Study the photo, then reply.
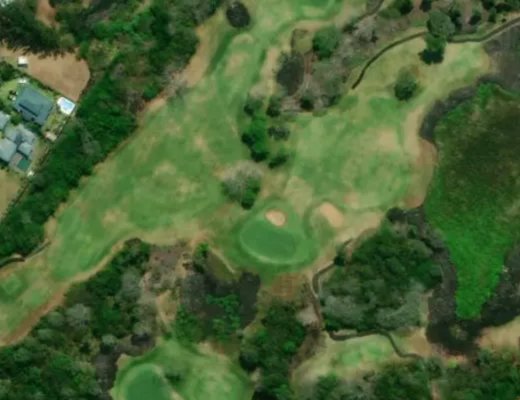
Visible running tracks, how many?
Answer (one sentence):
The count of running tracks is 0.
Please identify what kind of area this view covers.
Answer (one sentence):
The picture captures a golf course.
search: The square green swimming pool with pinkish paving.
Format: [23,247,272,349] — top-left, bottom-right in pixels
[10,152,31,172]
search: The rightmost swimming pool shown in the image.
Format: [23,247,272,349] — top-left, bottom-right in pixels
[57,96,75,114]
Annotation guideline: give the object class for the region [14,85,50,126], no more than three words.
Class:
house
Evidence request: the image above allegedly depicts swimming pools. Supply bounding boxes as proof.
[57,96,75,114]
[10,152,31,172]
